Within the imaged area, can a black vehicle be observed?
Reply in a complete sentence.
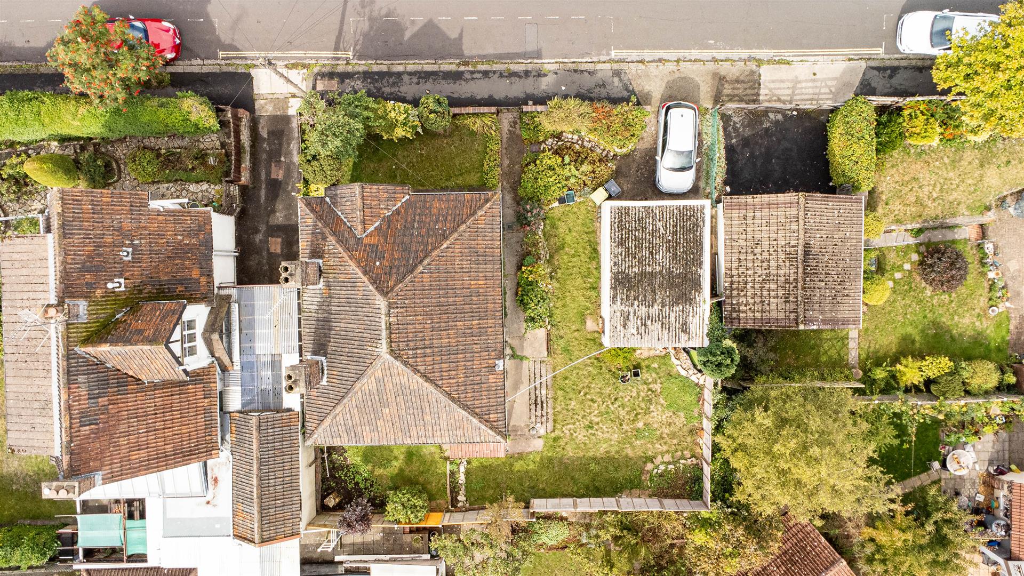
No, there isn't any black vehicle down there.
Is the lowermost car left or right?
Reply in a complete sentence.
It is on the right.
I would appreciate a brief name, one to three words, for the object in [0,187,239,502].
house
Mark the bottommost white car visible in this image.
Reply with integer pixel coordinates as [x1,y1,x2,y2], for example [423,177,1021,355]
[654,102,702,194]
